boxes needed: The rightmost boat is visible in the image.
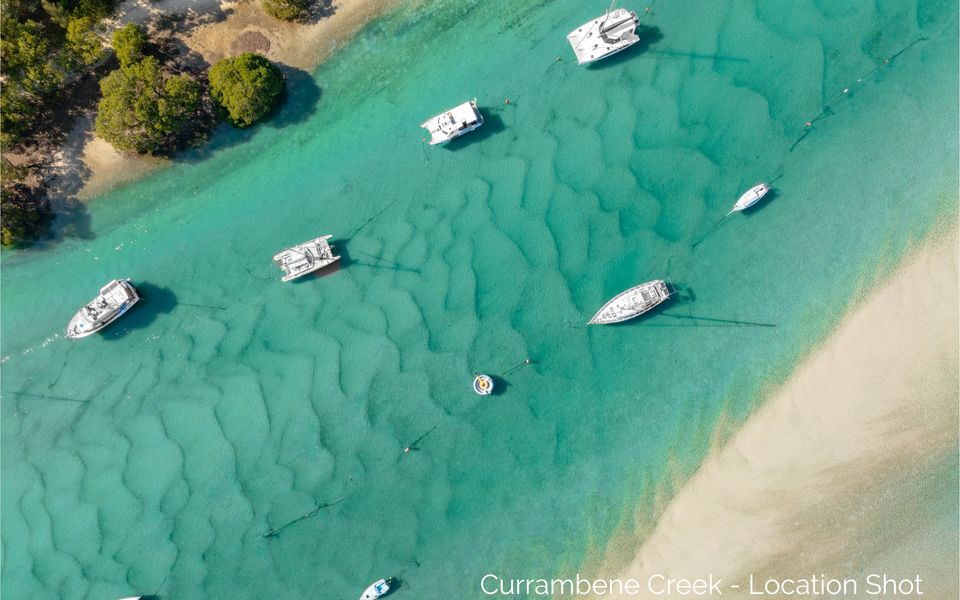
[728,183,769,216]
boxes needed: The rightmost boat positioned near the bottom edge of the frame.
[359,577,390,600]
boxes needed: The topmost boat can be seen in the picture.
[566,0,643,68]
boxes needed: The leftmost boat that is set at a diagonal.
[62,278,148,340]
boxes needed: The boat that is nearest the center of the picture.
[473,374,494,395]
